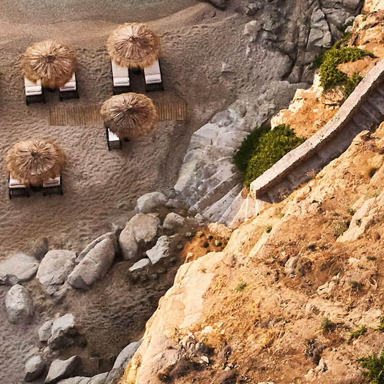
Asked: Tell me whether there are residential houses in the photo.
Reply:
No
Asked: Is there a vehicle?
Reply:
No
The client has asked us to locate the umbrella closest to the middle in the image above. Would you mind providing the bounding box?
[98,92,160,143]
